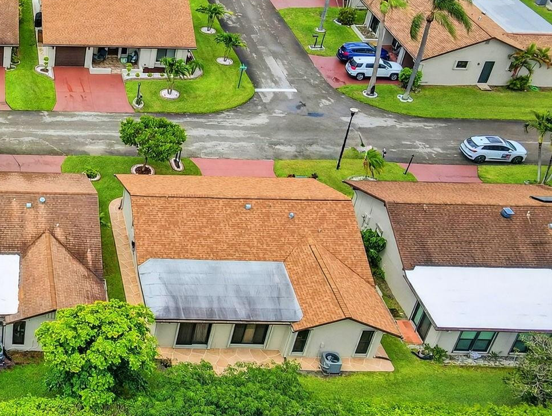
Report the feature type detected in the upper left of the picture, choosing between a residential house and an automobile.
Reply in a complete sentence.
Visible in the upper left of the picture is a residential house.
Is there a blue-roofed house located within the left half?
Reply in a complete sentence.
No, there is no blue-roofed house within the left half.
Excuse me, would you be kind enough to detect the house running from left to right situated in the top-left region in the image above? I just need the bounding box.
[40,0,197,74]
